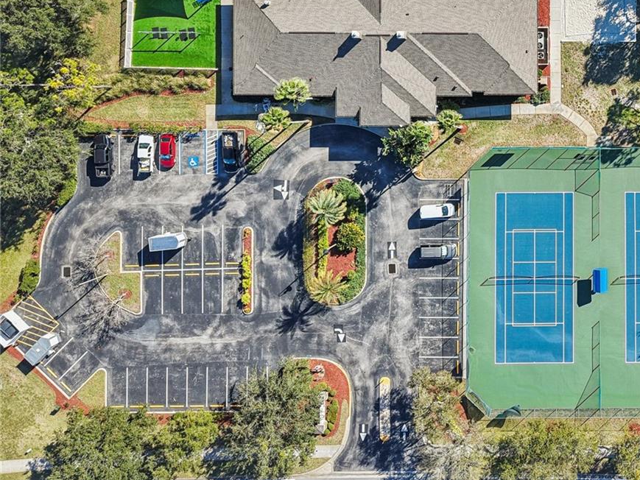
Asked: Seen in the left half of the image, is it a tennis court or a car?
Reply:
car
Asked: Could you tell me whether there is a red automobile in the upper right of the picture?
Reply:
No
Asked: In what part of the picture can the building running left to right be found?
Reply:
top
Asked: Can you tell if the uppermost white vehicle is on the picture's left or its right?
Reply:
left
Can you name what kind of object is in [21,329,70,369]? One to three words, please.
trailer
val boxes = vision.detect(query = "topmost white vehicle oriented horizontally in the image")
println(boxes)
[420,203,457,220]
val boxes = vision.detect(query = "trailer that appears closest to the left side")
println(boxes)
[0,311,36,348]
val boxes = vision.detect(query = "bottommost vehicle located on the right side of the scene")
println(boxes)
[419,243,459,260]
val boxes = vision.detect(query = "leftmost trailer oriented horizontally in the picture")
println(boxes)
[146,230,197,254]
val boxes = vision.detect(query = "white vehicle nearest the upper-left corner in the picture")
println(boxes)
[136,132,158,174]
